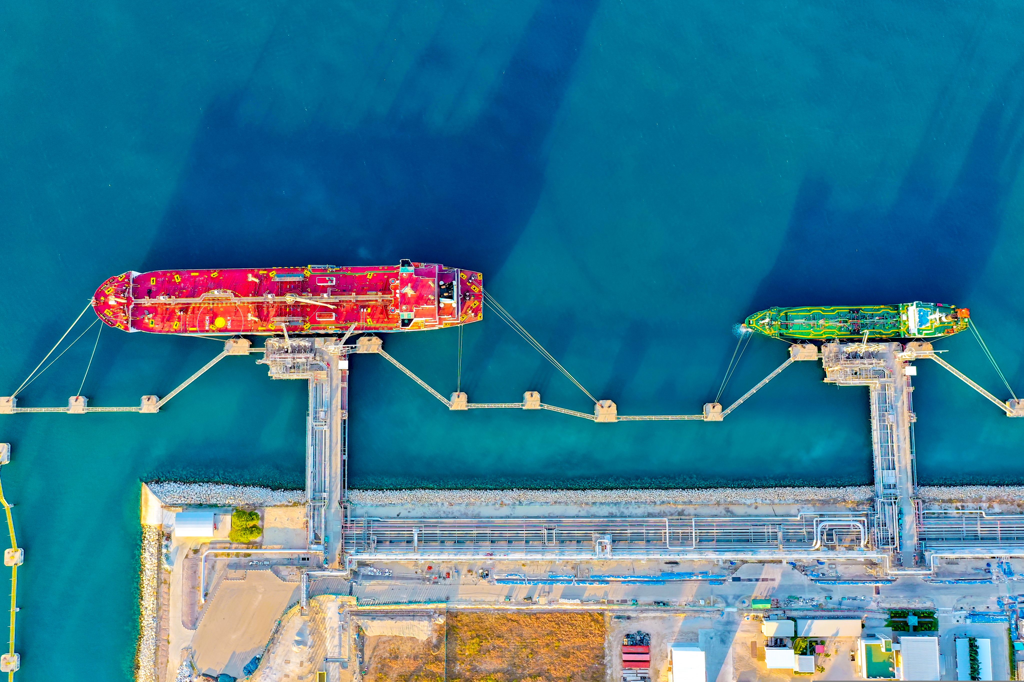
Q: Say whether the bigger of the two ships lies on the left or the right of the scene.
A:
left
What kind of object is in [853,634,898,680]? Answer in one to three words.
building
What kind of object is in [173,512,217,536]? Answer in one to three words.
shed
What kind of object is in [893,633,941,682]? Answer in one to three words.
building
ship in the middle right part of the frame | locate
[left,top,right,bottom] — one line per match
[738,301,976,341]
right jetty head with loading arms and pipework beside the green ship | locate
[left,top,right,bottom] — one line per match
[819,334,912,391]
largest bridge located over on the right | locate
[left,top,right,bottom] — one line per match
[867,380,918,552]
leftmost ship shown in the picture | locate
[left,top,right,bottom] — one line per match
[91,259,484,337]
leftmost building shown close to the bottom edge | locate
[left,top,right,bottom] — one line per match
[667,644,706,682]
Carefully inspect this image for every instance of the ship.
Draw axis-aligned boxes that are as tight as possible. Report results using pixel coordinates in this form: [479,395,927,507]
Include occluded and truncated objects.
[91,259,484,337]
[738,301,976,341]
